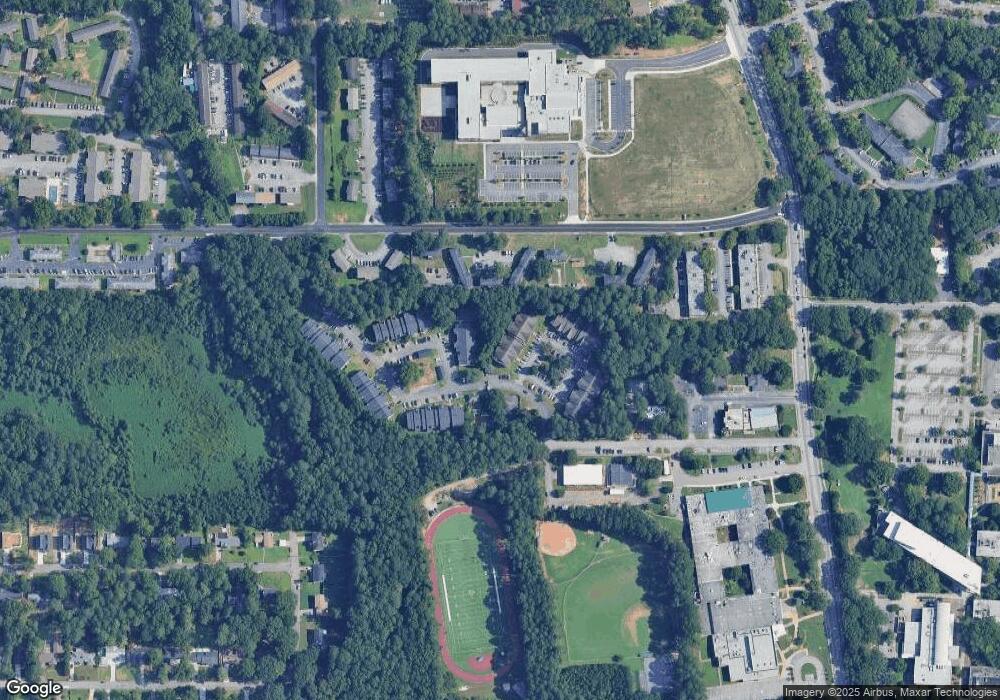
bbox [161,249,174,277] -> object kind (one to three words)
building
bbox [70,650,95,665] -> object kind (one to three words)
house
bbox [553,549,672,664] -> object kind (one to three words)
baseball field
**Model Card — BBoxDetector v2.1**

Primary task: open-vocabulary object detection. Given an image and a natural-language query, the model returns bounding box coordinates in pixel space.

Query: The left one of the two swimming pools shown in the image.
[47,178,62,204]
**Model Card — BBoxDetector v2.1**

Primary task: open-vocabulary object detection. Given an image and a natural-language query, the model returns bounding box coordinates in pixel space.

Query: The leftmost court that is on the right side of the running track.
[644,656,669,692]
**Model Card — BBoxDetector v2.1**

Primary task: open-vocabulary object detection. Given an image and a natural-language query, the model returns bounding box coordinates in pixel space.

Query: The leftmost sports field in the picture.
[433,511,510,675]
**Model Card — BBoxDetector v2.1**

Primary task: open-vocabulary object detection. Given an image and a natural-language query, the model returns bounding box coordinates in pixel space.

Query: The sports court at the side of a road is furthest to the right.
[890,99,934,139]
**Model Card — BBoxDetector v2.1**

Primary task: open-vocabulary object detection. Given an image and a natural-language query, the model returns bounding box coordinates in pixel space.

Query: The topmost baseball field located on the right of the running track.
[537,520,646,583]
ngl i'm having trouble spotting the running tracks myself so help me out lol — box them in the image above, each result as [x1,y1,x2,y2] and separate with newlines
[425,502,519,683]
